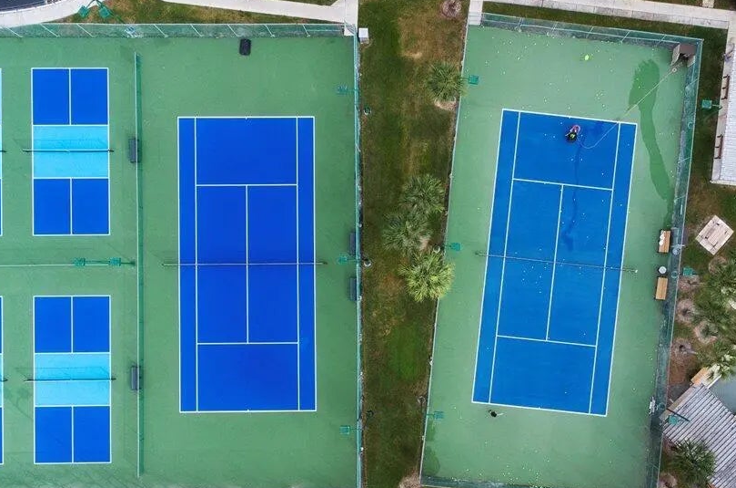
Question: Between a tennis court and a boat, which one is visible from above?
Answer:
tennis court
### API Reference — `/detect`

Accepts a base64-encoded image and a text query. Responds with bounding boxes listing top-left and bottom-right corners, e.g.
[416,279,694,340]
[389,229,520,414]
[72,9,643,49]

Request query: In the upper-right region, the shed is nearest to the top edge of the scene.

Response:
[667,42,698,73]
